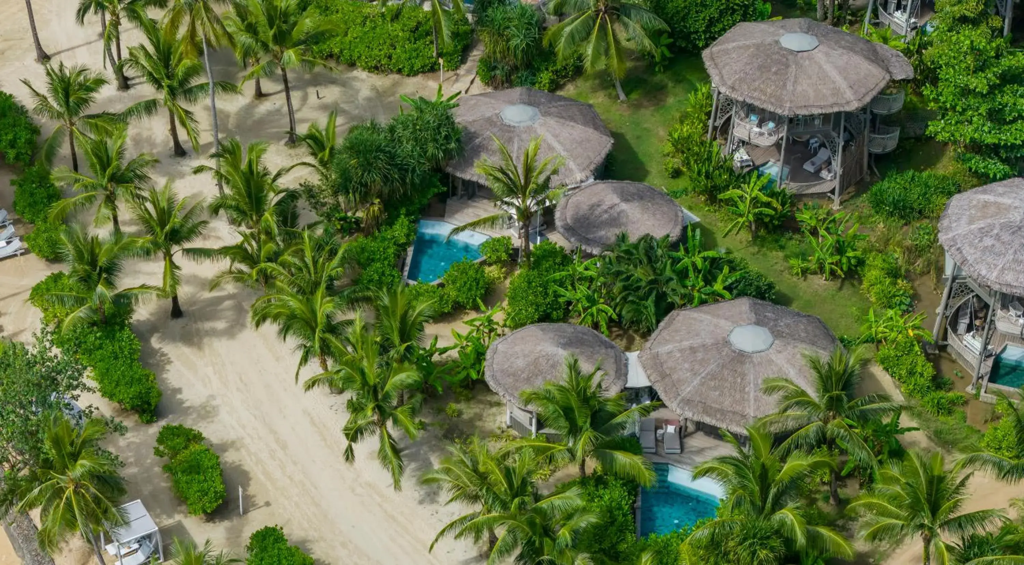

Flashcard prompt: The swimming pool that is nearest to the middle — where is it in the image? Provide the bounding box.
[402,216,497,291]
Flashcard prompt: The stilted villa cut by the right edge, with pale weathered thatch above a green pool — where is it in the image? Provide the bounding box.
[922,176,1024,394]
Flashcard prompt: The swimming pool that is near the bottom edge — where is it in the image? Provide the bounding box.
[635,458,729,555]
